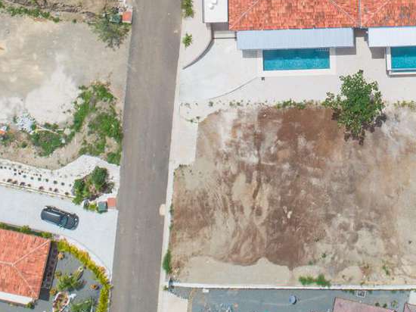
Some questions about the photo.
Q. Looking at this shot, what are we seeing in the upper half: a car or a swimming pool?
swimming pool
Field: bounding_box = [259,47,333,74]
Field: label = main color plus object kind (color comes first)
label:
blue swimming pool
